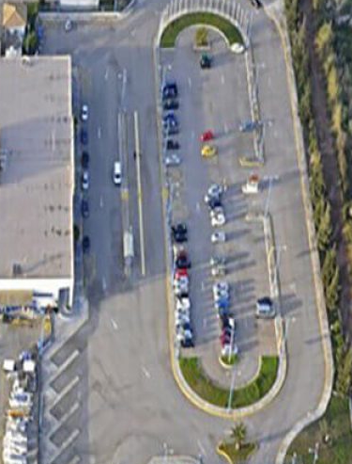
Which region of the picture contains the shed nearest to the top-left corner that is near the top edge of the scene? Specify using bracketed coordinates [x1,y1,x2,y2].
[3,6,26,35]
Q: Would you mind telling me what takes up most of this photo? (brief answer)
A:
paved ground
